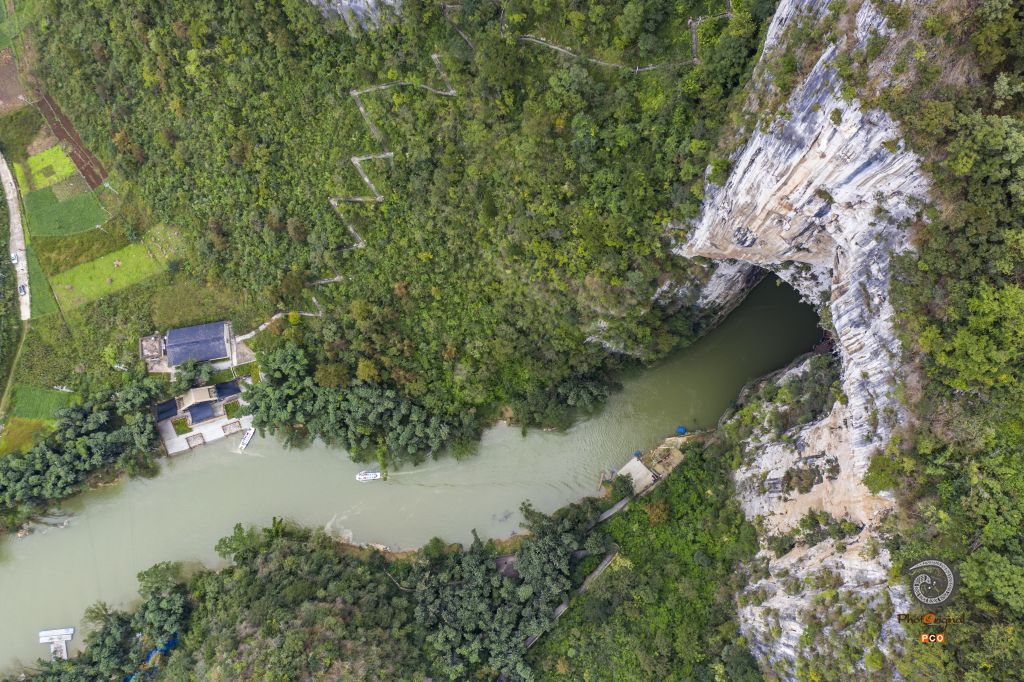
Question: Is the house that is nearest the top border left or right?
left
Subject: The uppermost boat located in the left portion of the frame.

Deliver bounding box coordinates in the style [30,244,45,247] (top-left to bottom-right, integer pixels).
[239,429,255,449]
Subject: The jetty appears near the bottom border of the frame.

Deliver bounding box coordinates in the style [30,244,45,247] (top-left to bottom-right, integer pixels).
[40,634,73,662]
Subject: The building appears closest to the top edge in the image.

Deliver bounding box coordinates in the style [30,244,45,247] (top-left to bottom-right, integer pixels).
[165,321,235,366]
